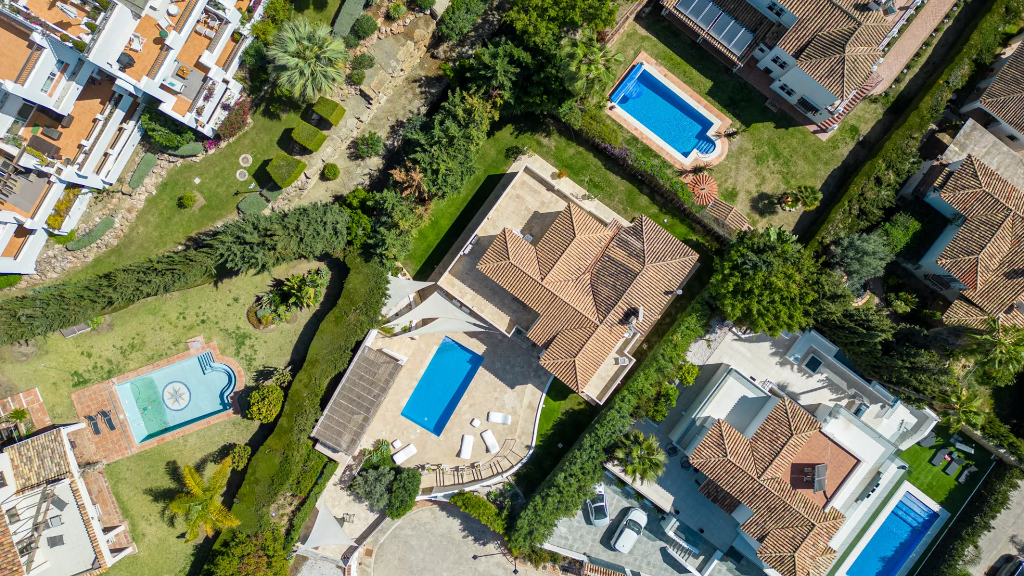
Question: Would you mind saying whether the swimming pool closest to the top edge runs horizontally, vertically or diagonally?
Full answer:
What the image shows is the swimming pool closest to the top edge lying diagonally.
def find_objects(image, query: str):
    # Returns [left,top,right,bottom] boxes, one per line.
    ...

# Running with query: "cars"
[992,548,1024,576]
[590,485,611,529]
[611,505,647,555]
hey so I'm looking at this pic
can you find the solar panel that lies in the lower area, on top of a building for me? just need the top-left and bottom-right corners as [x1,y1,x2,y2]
[806,460,829,501]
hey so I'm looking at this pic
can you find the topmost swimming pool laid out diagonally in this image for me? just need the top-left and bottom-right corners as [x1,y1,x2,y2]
[618,67,715,158]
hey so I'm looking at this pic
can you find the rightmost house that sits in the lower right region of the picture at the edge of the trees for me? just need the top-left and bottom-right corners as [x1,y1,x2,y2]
[663,364,901,576]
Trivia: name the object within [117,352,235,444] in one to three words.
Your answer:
swimming pool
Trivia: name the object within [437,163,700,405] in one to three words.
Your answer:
house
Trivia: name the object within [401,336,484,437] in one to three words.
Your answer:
swimming pool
